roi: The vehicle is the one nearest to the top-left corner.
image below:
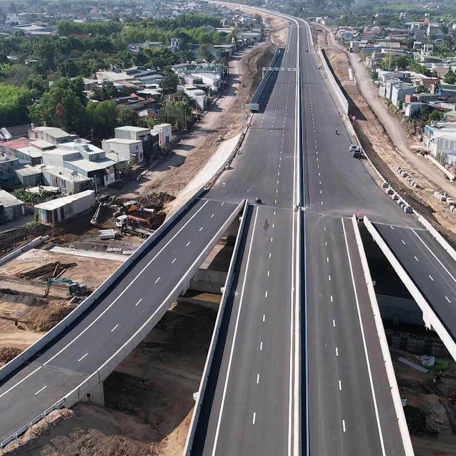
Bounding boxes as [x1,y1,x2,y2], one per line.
[102,190,151,220]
